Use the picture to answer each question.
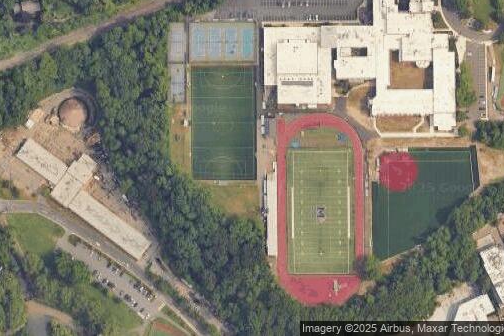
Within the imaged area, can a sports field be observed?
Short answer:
Yes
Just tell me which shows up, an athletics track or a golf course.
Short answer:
athletics track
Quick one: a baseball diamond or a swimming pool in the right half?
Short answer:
baseball diamond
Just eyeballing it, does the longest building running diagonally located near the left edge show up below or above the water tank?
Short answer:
below it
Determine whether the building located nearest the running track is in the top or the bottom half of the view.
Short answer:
top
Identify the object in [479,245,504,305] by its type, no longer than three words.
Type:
building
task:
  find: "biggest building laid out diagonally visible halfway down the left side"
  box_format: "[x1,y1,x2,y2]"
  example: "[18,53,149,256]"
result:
[16,139,151,261]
